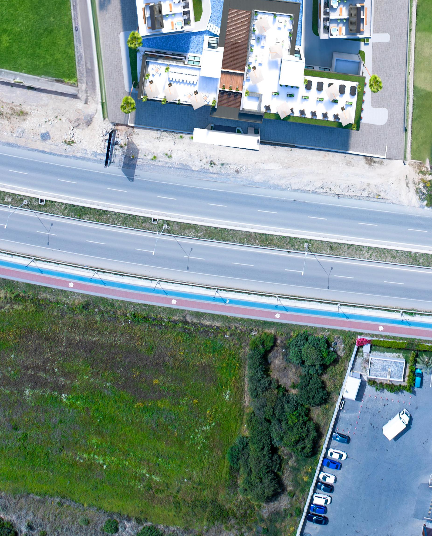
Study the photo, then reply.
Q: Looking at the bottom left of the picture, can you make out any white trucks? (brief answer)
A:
No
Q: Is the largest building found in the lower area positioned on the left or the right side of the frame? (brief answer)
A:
right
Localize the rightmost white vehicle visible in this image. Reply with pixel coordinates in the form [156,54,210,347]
[383,413,410,448]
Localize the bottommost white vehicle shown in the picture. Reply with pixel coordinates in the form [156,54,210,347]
[312,494,332,508]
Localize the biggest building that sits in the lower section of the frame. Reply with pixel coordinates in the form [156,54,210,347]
[367,350,406,383]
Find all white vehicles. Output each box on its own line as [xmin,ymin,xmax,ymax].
[318,472,337,485]
[327,449,347,463]
[312,494,332,508]
[383,413,410,448]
